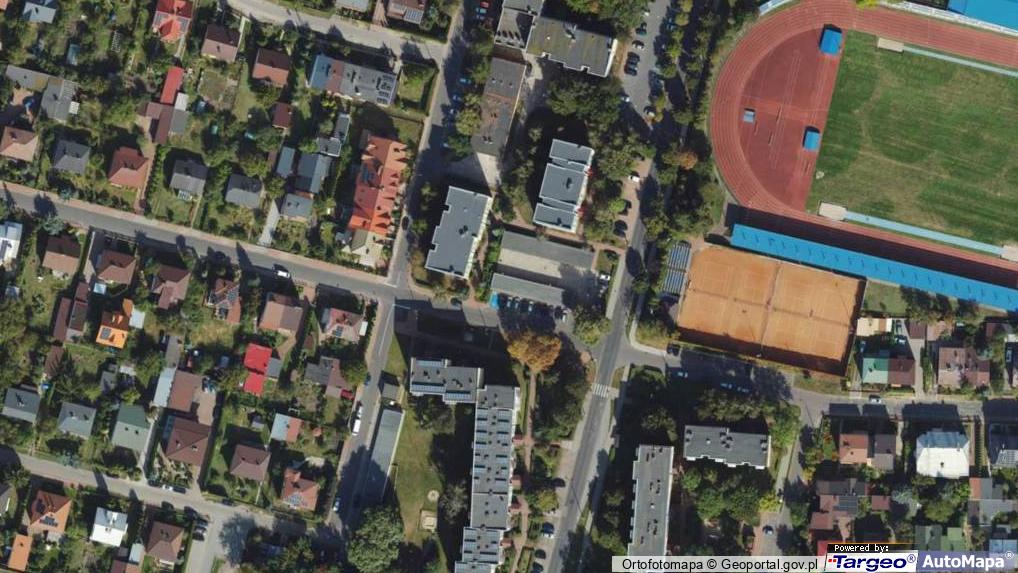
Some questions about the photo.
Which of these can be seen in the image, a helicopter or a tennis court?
tennis court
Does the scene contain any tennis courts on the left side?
No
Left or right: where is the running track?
right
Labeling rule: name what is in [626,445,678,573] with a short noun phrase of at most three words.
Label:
building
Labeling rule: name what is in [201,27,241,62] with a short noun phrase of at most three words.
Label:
house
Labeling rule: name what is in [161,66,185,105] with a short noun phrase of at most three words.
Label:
shed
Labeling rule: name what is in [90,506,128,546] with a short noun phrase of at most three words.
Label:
house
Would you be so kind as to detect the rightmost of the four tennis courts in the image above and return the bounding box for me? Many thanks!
[802,272,866,376]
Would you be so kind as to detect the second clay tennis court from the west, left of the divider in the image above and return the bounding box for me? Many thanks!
[719,255,781,356]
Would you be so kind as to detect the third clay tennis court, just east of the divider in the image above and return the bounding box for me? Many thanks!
[761,264,823,366]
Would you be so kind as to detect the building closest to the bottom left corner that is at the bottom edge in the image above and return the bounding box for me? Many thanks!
[8,534,32,571]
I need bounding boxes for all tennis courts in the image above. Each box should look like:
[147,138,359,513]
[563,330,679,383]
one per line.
[677,246,741,347]
[802,272,866,376]
[761,264,823,366]
[719,255,781,356]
